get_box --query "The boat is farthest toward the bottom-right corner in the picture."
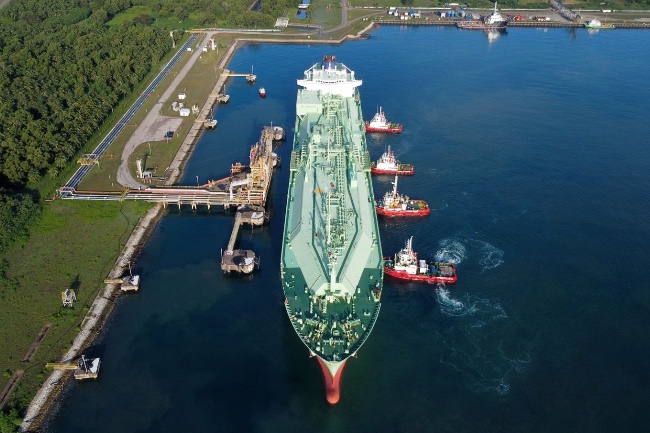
[382,232,456,279]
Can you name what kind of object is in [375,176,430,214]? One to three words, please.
boat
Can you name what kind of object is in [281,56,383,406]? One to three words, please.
ship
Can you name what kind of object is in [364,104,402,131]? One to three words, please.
boat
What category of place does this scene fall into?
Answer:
port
